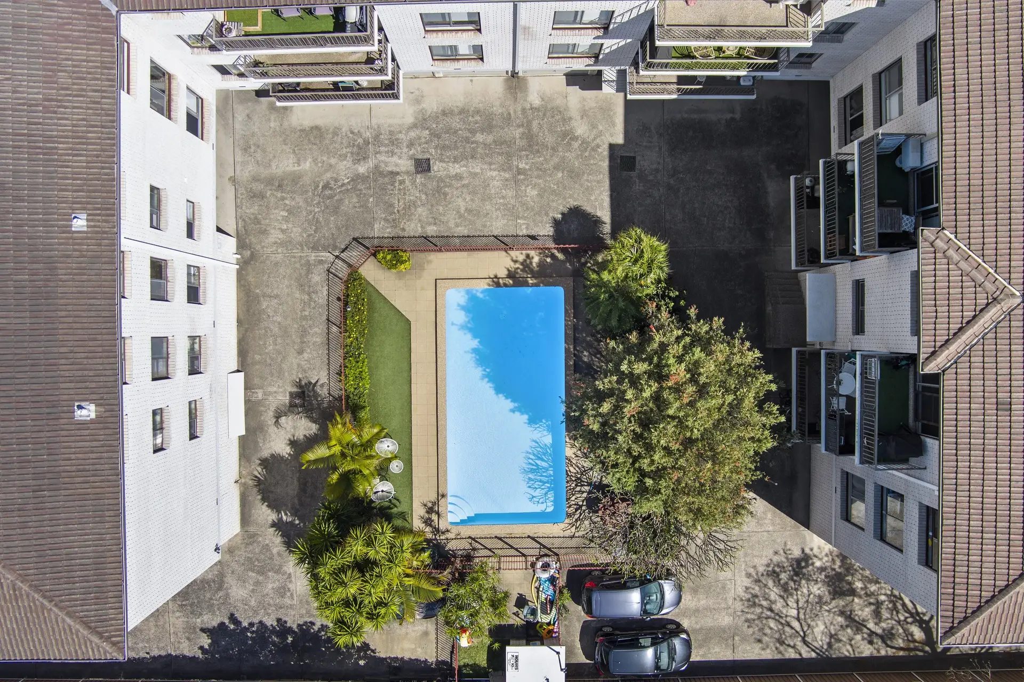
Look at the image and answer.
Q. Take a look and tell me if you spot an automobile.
Yes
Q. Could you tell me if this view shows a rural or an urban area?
urban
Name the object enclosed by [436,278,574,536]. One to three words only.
swimming pool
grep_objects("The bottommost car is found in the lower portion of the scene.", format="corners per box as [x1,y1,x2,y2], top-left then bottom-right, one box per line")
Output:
[591,623,691,680]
